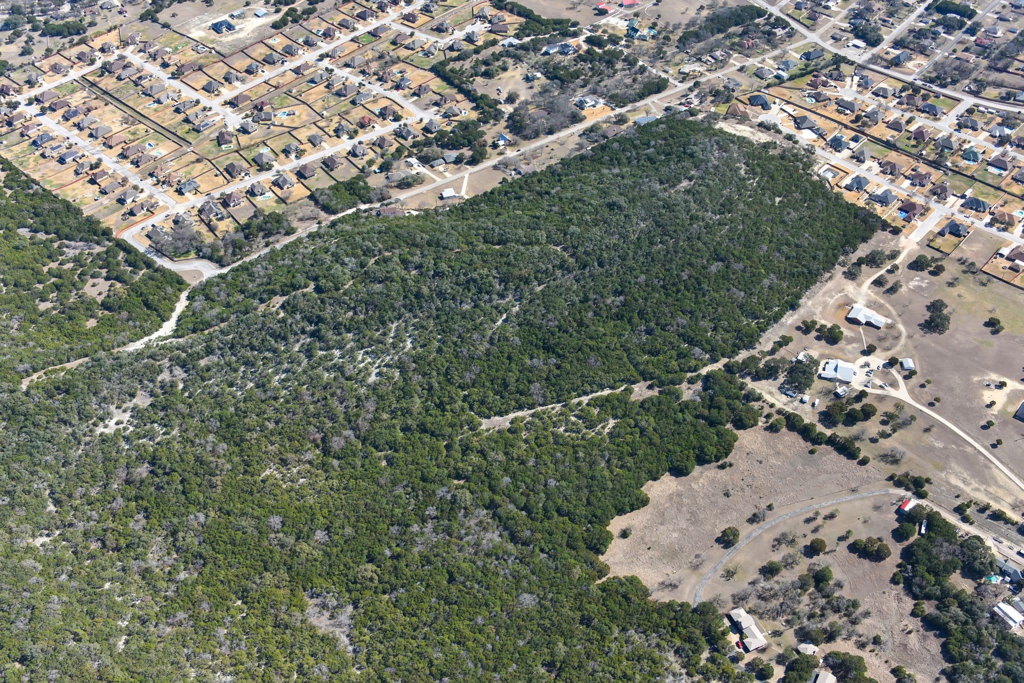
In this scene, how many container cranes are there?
0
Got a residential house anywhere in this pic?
Yes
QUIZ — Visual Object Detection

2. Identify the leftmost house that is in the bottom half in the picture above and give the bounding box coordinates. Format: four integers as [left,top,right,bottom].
[728,606,764,655]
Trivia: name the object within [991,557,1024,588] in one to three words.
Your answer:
house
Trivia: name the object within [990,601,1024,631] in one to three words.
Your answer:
barn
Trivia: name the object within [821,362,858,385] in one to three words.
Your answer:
house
